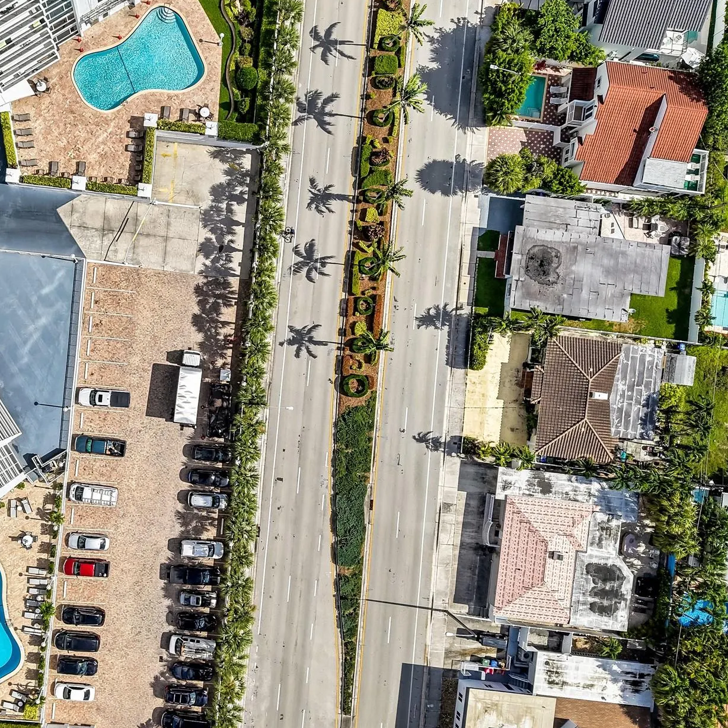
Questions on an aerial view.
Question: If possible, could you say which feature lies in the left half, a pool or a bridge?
pool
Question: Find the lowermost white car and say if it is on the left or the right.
left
